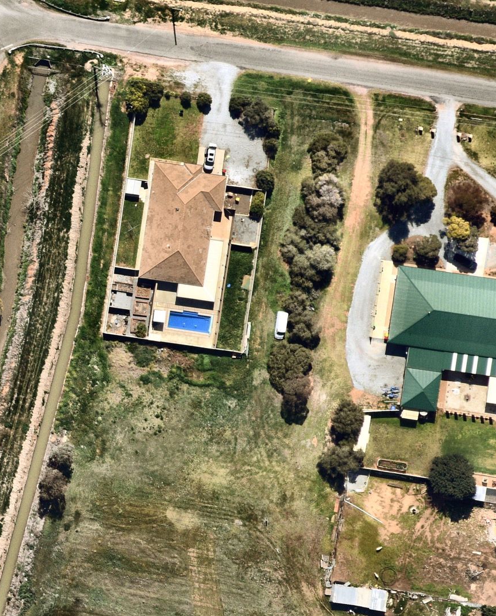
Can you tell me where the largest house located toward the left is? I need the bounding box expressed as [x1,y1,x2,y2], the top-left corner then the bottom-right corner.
[139,162,227,302]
